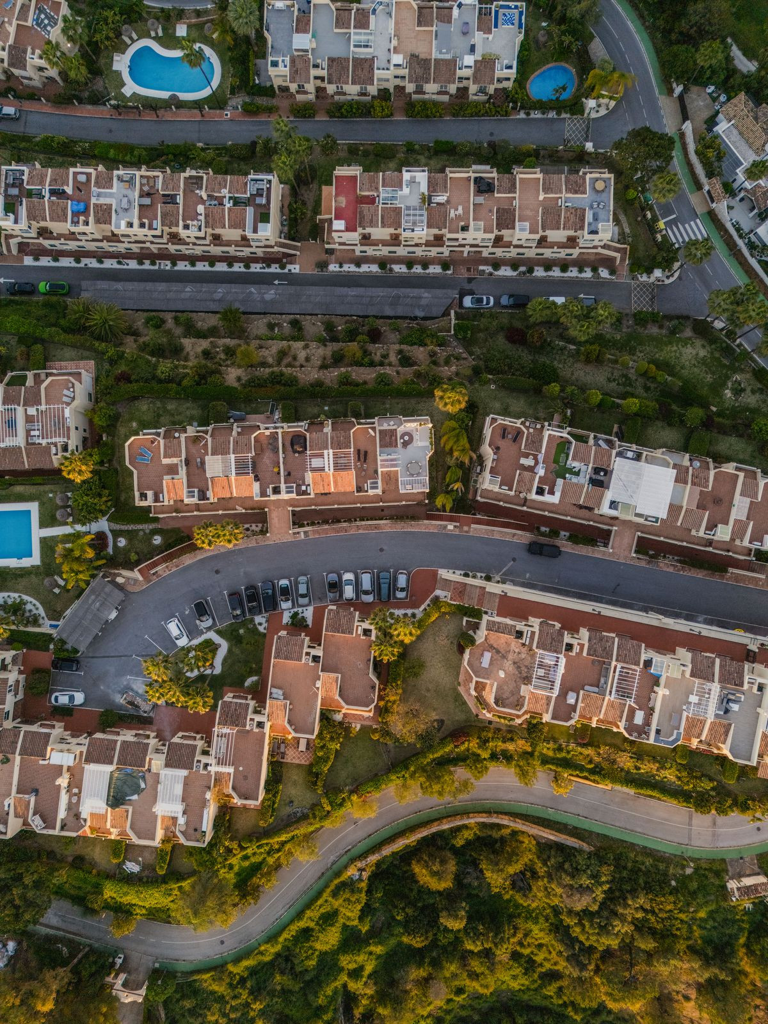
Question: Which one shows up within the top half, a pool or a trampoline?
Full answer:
There is a pool within the top half.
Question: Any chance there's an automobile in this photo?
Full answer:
Yes, the picture does show an automobile.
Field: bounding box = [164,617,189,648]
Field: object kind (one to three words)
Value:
car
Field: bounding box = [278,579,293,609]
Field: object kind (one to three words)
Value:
car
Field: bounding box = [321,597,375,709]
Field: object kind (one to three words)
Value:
house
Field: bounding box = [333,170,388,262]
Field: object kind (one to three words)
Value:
house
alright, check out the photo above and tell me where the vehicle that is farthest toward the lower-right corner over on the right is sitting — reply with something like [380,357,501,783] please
[527,541,561,557]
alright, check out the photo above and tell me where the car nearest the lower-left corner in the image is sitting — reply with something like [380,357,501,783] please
[51,691,85,706]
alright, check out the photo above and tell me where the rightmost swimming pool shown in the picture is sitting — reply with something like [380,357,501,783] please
[527,62,577,103]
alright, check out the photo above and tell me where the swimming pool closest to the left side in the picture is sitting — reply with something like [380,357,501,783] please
[0,502,40,567]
